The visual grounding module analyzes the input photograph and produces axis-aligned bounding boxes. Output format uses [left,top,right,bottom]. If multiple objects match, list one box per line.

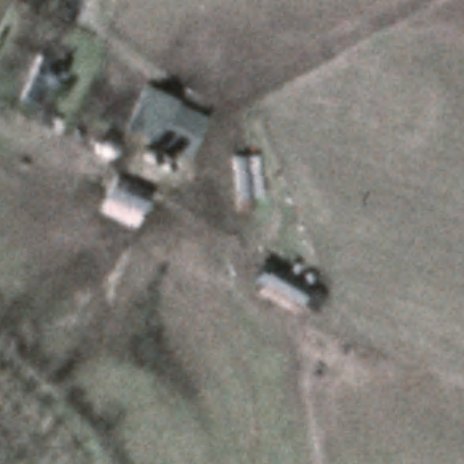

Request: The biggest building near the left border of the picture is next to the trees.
[21,55,72,108]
